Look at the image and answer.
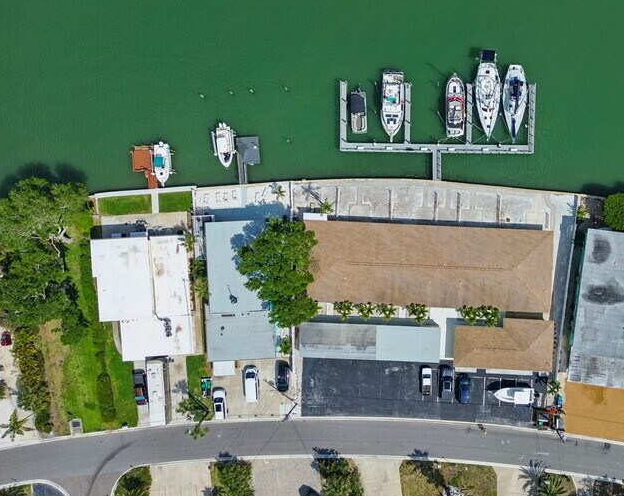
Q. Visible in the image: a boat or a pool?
boat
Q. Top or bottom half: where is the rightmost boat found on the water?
top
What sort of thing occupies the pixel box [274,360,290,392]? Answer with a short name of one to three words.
car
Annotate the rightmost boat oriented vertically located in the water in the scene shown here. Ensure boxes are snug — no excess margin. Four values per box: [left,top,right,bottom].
[503,65,531,143]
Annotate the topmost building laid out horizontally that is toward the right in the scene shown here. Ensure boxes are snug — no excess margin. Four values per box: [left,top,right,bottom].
[303,221,553,313]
